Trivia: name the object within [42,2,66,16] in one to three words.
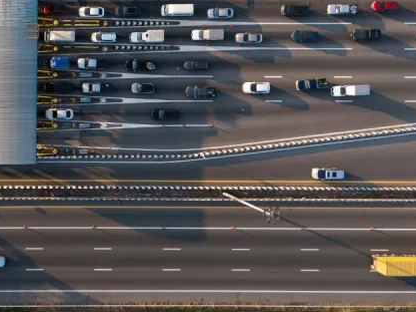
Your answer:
vehicle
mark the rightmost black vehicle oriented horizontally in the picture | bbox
[350,27,382,41]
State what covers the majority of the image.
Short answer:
paved ground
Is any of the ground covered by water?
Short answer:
No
